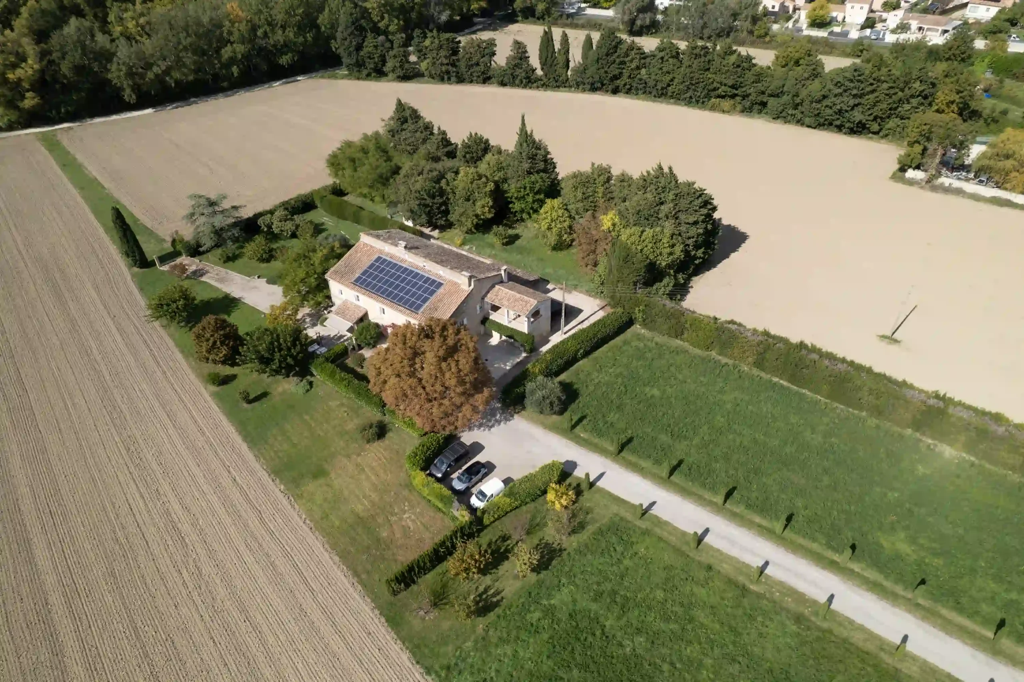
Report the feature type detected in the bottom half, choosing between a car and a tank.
car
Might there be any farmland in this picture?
Yes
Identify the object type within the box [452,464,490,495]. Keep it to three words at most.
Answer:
car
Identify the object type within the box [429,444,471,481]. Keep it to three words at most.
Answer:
car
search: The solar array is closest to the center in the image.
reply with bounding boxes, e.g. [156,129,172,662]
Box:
[351,252,448,315]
